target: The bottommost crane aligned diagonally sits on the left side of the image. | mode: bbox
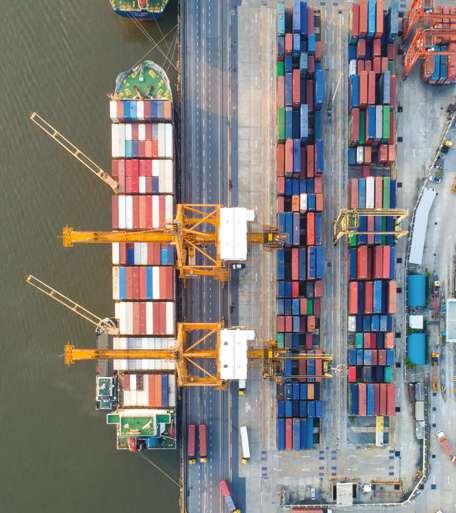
[26,276,119,338]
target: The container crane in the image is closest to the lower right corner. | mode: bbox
[263,351,334,379]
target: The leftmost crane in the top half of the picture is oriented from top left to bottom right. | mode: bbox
[31,114,121,196]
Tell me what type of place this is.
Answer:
port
